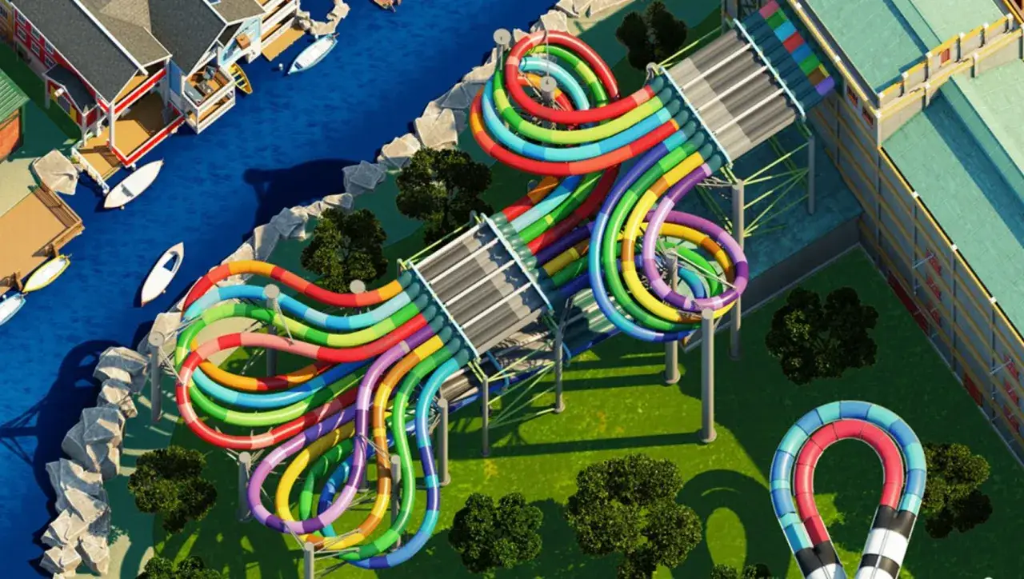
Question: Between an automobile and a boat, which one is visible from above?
boat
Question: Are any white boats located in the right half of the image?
No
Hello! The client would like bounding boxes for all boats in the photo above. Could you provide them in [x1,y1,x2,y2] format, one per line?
[229,60,255,95]
[141,239,184,304]
[22,251,72,290]
[104,157,163,208]
[373,0,398,8]
[288,30,339,72]
[0,289,27,321]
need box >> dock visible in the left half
[262,15,312,67]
